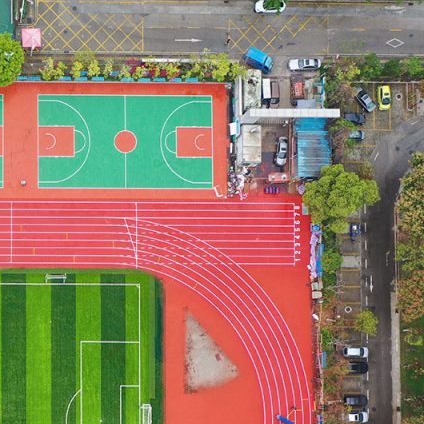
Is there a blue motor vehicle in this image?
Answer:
Yes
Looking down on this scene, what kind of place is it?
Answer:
sports ground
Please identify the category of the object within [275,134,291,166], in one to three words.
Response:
car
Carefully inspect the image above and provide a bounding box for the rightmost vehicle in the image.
[378,81,396,111]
